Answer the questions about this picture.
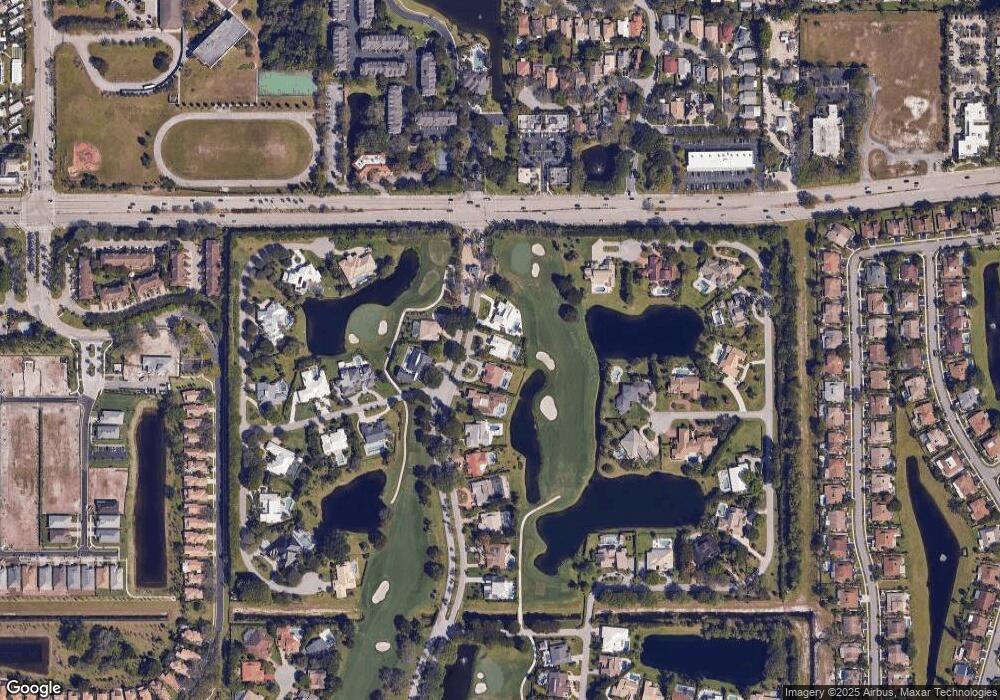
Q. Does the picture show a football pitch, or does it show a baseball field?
baseball field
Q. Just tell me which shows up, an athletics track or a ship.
athletics track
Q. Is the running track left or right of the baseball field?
to the right of it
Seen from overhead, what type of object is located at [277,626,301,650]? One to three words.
house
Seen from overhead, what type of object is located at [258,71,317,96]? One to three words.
sports court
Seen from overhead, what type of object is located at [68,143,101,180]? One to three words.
baseball field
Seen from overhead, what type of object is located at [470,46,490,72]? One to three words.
swimming pool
